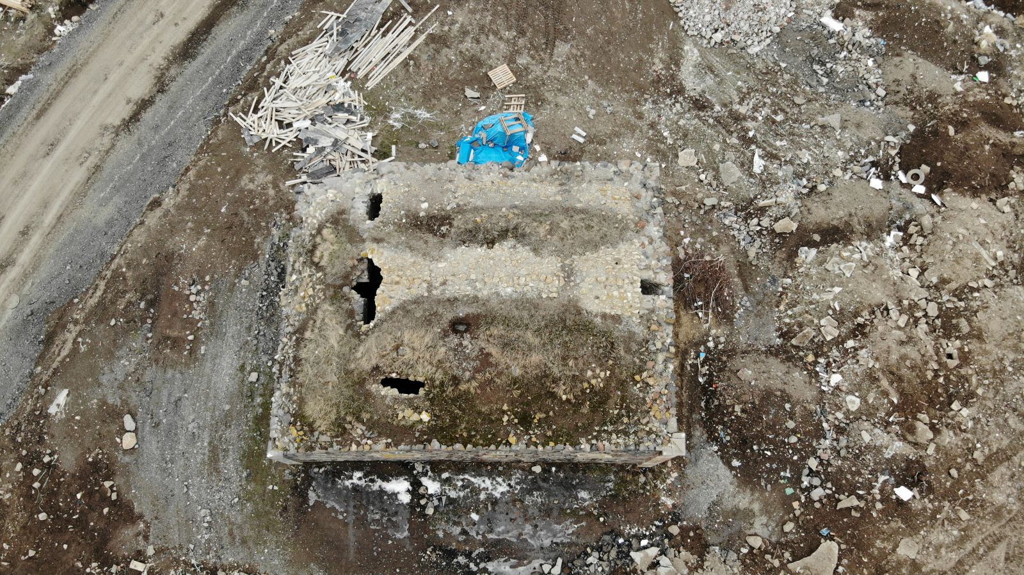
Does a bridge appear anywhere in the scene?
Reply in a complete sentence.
No, the scene contains no bridge.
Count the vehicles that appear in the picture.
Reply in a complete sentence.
The count of vehicles is 0.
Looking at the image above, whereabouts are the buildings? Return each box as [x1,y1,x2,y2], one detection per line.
[266,154,687,468]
